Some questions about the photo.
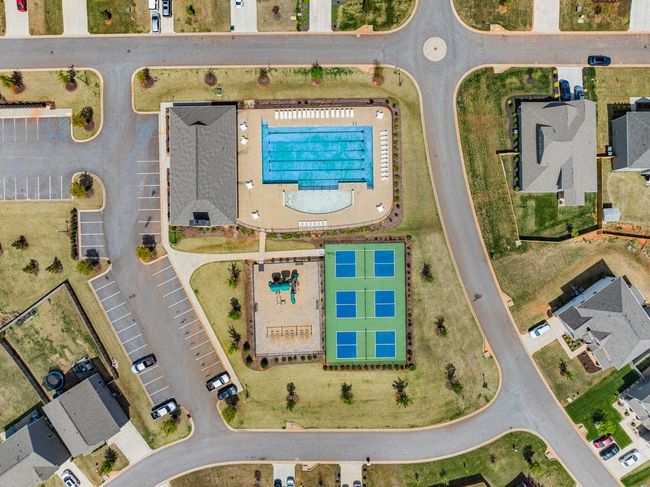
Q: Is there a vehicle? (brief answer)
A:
Yes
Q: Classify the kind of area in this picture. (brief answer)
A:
residential area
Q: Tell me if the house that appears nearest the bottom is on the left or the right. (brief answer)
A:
left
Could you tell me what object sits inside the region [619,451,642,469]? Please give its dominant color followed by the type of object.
white car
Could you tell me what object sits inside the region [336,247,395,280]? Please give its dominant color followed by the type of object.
blue sports court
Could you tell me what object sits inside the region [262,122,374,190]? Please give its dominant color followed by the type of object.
blue swimming pool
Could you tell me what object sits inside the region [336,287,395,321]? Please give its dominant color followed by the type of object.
blue sports court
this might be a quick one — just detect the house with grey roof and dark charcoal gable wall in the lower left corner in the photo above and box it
[0,419,69,487]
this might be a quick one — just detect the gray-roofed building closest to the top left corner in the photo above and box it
[169,105,238,227]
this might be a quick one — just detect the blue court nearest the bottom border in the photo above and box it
[336,328,396,361]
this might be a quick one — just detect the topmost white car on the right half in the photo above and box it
[529,322,552,339]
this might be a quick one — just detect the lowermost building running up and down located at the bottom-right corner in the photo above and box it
[621,377,650,444]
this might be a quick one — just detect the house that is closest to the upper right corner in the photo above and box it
[614,98,650,175]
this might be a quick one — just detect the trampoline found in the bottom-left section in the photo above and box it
[46,371,65,387]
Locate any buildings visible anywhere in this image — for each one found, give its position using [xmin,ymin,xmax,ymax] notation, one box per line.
[621,377,650,444]
[517,97,597,206]
[169,105,238,227]
[614,98,650,175]
[42,374,127,459]
[554,277,650,377]
[602,208,621,222]
[0,419,69,487]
